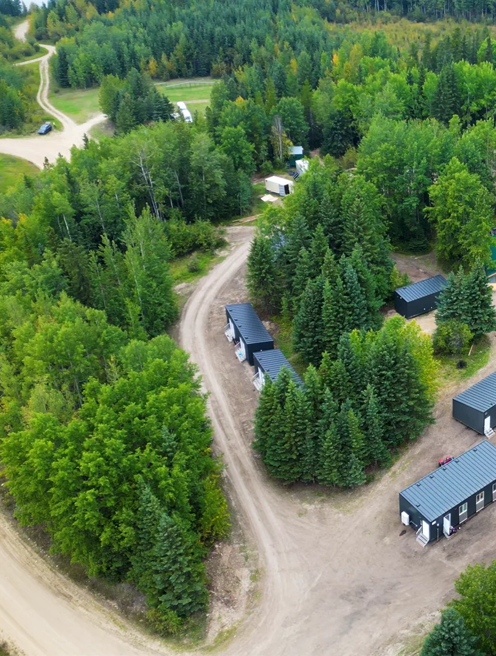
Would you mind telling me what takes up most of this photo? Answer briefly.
trees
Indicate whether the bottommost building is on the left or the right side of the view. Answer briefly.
right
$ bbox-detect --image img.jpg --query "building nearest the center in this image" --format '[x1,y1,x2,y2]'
[220,300,274,363]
